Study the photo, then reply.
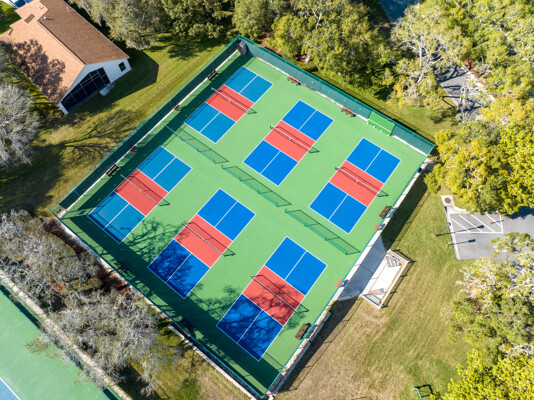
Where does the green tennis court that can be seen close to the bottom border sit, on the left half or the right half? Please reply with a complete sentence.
The green tennis court that can be seen close to the bottom border sits on the left side.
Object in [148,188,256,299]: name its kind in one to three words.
sports court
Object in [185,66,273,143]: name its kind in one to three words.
sports court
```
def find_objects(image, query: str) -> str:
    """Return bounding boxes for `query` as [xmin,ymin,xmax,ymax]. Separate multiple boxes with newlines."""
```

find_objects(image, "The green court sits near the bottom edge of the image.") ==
[0,295,103,400]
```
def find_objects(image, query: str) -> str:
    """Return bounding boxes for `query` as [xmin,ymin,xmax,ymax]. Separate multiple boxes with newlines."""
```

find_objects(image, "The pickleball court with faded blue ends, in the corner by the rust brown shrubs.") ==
[88,146,192,244]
